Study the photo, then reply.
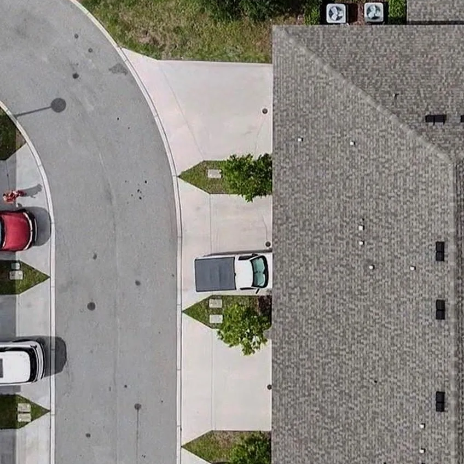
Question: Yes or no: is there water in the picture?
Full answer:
No, there's no water in this view.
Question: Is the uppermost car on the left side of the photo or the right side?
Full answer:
The uppermost car appears in the left half of the scene.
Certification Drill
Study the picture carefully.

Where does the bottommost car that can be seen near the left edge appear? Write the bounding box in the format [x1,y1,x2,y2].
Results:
[0,337,48,379]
